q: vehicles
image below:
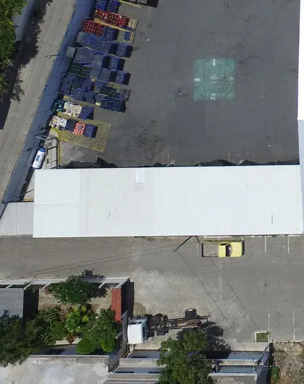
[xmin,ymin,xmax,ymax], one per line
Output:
[130,310,214,349]
[202,240,245,258]
[28,141,50,173]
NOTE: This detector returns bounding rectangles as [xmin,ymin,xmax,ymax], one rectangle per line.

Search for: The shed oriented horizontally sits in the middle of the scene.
[34,157,304,237]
